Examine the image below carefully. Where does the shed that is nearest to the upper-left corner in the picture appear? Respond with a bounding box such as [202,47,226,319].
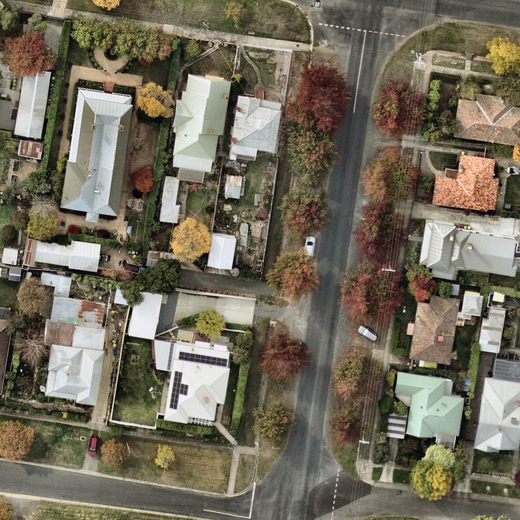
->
[13,71,51,139]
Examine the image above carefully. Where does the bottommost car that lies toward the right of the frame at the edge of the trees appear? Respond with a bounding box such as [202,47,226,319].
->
[357,325,378,343]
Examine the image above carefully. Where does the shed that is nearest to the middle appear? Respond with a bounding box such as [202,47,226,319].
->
[208,234,237,270]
